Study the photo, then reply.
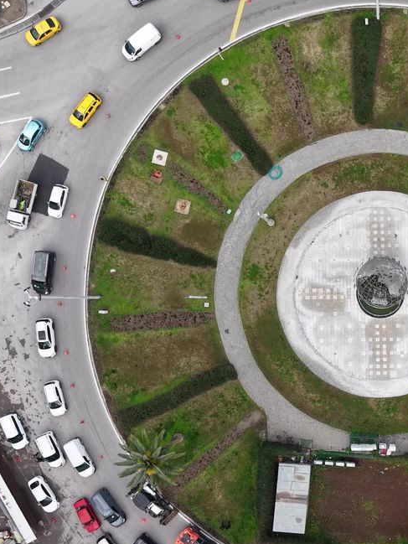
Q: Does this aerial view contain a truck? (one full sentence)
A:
Yes, a truck is visible in the scene.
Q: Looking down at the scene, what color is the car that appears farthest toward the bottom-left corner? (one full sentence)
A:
From above, the car that appears farthest toward the bottom-left corner appears white.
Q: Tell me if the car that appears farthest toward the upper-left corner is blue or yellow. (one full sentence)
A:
The car that appears farthest toward the upper-left corner looks yellow in the image.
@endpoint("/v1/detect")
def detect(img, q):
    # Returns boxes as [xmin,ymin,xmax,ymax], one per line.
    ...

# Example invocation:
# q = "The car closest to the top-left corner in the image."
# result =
[25,21,64,48]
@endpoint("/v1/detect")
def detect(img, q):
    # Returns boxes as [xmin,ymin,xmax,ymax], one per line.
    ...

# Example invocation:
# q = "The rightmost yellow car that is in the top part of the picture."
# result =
[68,90,104,129]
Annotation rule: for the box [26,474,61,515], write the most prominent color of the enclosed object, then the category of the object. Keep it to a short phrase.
white car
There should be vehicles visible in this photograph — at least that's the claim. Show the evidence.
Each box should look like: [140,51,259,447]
[121,20,163,61]
[133,530,158,544]
[68,90,104,129]
[0,410,31,452]
[36,318,58,358]
[29,251,56,296]
[17,116,48,154]
[91,485,126,529]
[18,297,33,307]
[34,429,67,470]
[4,177,39,233]
[60,435,96,480]
[171,524,223,544]
[134,484,181,528]
[47,183,70,219]
[73,496,101,534]
[25,21,64,48]
[43,379,68,417]
[94,531,117,544]
[26,474,61,515]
